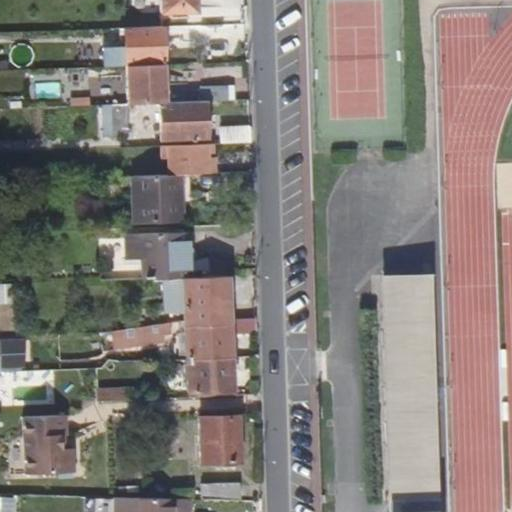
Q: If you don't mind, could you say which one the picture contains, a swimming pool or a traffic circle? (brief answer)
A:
swimming pool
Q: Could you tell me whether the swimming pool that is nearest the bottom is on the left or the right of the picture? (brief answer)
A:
left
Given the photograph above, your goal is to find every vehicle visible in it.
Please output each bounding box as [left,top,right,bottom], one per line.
[287,272,308,288]
[290,432,312,446]
[284,248,306,266]
[276,8,302,29]
[281,86,302,102]
[288,309,309,326]
[198,178,218,188]
[279,36,300,53]
[292,462,312,478]
[284,153,304,170]
[291,446,313,462]
[286,297,309,315]
[268,350,279,373]
[294,486,315,502]
[294,502,316,512]
[290,406,312,420]
[282,74,302,90]
[291,418,312,432]
[288,259,308,276]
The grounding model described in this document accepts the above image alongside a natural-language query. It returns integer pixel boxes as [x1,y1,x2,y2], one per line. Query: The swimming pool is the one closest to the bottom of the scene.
[10,383,50,404]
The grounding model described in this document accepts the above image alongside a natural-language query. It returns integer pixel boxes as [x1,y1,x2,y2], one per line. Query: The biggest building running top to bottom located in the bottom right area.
[382,274,442,494]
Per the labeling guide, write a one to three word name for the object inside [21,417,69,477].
house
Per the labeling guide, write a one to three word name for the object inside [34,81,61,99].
swimming pool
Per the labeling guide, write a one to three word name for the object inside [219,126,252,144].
building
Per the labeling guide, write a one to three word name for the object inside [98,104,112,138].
shed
